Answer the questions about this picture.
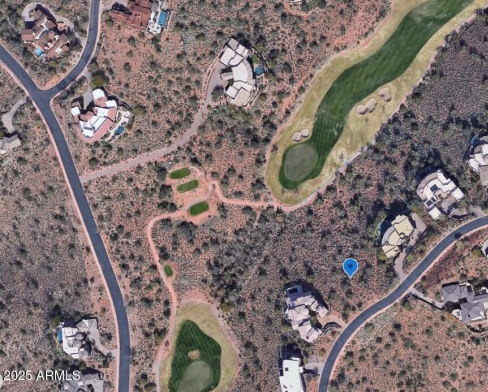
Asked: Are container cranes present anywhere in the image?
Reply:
No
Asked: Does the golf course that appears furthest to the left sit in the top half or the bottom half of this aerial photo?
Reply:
bottom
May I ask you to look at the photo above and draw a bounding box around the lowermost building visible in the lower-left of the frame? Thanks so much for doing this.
[62,372,101,392]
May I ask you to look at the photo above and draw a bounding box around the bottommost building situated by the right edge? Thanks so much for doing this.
[440,280,488,327]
